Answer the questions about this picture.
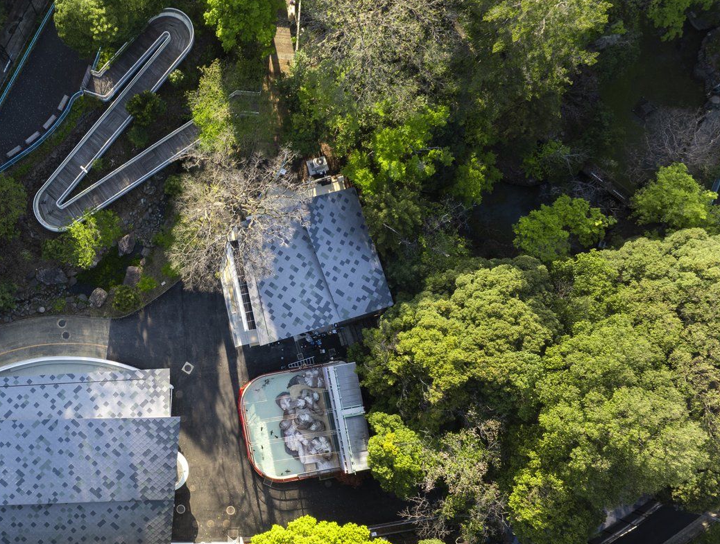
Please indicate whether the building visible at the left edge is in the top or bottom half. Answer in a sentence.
The building visible at the left edge sits in the bottom half of the picture.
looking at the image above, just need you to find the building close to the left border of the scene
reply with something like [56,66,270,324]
[0,368,181,544]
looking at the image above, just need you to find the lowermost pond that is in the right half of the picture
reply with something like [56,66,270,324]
[463,178,557,269]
